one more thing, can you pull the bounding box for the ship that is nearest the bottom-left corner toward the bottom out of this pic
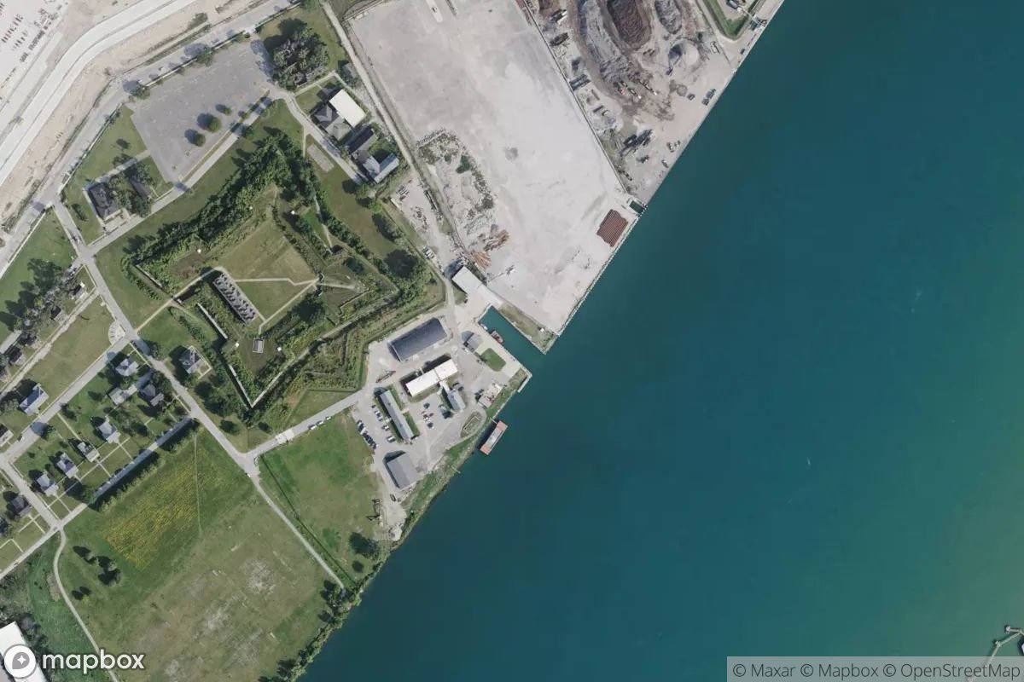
[479,421,507,455]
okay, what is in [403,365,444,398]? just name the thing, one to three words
building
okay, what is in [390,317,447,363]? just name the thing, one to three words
building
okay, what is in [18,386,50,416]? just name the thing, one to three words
house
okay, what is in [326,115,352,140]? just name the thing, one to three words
house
